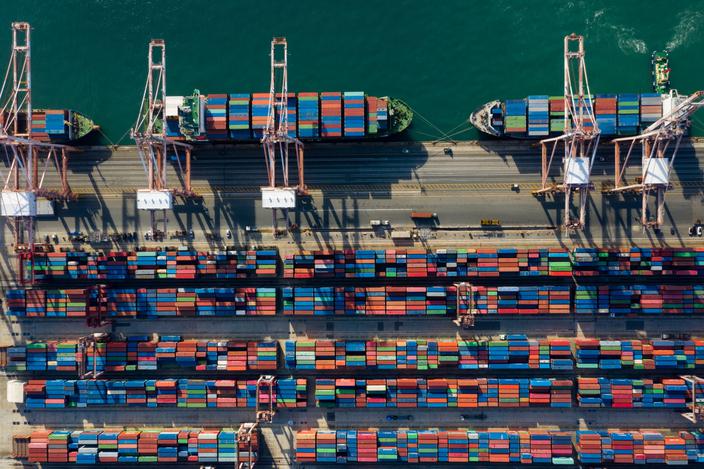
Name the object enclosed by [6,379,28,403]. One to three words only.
shed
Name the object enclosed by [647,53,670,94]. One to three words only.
boat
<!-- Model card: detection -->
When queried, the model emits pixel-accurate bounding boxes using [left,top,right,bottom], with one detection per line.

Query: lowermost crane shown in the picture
[236,412,263,469]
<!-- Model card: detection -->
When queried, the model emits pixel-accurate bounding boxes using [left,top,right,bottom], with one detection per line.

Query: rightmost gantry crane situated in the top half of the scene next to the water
[597,86,704,229]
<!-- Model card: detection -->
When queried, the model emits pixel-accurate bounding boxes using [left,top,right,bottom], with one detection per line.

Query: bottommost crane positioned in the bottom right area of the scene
[668,367,704,424]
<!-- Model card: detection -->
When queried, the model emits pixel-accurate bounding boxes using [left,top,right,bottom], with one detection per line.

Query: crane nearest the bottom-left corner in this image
[80,330,115,378]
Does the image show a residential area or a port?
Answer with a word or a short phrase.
port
